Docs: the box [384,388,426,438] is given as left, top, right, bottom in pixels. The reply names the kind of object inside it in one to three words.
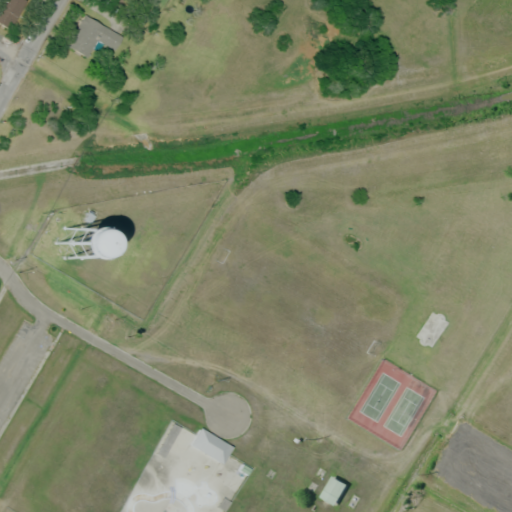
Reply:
tennis court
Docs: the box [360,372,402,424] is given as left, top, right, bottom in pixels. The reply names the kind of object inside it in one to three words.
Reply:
tennis court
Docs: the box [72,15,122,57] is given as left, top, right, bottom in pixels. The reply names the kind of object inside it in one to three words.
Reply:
house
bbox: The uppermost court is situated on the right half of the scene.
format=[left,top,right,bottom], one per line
[417,312,450,348]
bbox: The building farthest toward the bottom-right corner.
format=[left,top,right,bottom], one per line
[317,476,346,506]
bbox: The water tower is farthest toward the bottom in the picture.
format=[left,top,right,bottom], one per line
[54,225,128,261]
